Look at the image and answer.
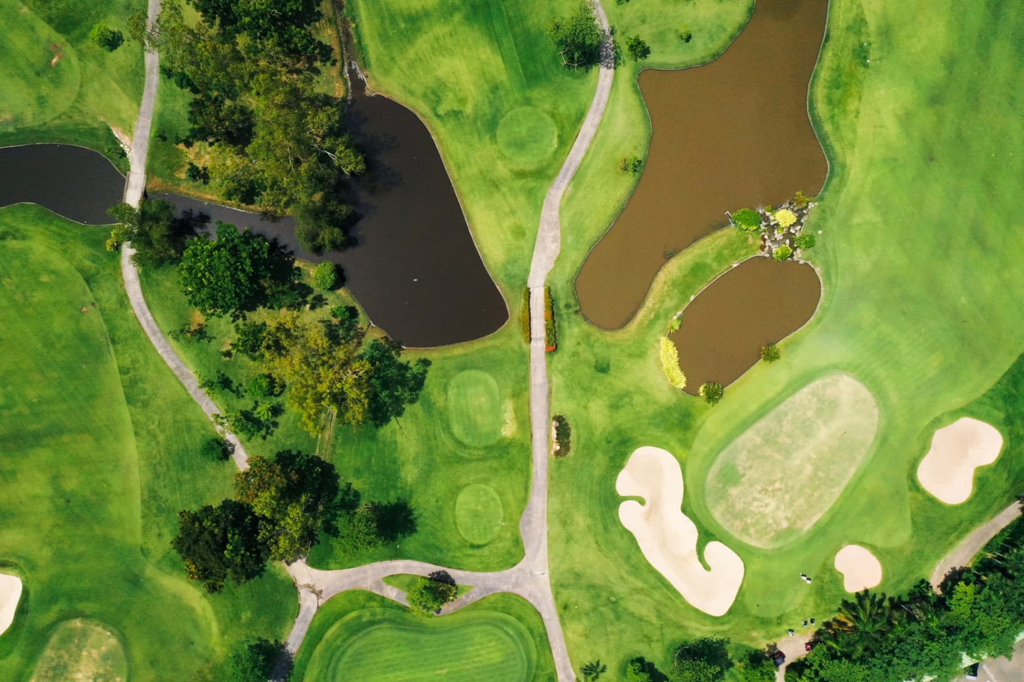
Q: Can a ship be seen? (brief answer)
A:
No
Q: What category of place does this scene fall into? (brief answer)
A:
golf course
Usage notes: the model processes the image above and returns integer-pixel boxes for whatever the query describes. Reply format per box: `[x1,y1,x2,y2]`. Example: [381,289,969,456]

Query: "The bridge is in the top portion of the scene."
[117,171,147,226]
